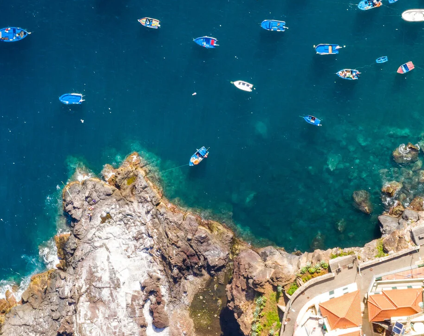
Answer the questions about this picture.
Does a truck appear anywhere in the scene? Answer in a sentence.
No, there is no truck in the image.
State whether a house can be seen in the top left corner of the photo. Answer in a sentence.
No, no house appears in the top left corner of the photo.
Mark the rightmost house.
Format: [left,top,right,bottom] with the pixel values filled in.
[367,287,424,324]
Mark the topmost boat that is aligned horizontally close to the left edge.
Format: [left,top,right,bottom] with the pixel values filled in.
[0,27,31,42]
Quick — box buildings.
[367,287,424,324]
[319,285,363,331]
